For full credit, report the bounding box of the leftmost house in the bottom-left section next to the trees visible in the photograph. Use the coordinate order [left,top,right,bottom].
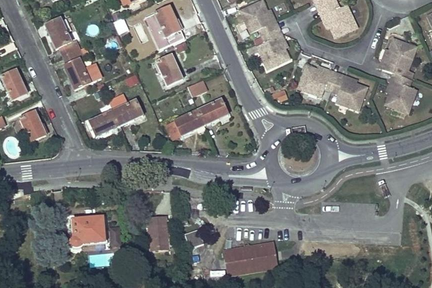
[68,210,107,254]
